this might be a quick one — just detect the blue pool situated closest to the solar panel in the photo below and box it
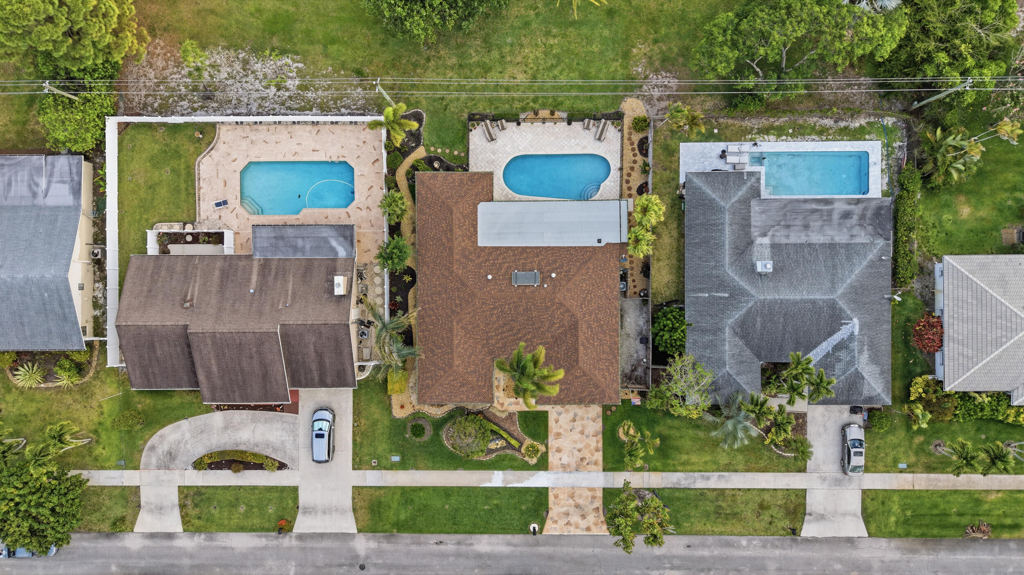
[498,148,616,201]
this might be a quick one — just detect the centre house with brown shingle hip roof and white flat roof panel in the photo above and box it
[415,171,633,405]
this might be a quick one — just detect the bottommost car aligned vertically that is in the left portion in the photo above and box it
[309,407,336,463]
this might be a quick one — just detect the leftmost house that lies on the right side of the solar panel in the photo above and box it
[684,171,892,406]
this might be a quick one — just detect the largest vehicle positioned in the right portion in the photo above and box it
[840,424,868,476]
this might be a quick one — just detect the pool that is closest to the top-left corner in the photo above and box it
[237,158,358,218]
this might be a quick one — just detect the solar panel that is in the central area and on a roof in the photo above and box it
[512,270,540,286]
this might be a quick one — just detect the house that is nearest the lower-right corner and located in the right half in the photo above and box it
[928,254,1024,406]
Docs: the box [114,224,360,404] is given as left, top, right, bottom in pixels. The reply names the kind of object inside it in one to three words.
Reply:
house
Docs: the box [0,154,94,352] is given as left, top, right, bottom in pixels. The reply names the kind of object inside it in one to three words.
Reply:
house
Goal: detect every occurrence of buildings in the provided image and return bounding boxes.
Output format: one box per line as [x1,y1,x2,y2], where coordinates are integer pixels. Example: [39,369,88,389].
[0,154,94,352]
[415,171,633,405]
[114,224,360,404]
[928,254,1024,406]
[684,171,892,406]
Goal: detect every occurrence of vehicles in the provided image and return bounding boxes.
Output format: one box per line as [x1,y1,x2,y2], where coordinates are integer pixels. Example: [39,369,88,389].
[840,424,868,476]
[309,407,336,463]
[0,538,60,563]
